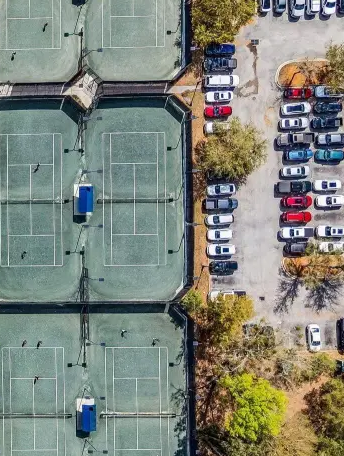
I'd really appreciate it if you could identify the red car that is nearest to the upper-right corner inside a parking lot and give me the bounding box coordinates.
[285,87,312,100]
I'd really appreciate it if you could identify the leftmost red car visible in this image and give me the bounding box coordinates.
[204,106,232,118]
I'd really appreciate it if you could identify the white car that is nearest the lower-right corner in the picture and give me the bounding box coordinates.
[306,324,322,351]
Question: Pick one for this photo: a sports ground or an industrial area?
sports ground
